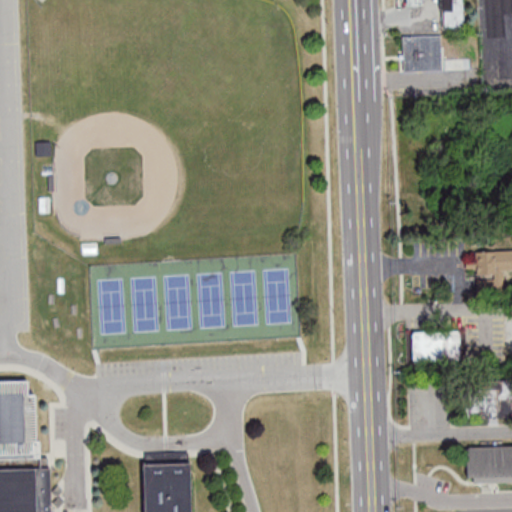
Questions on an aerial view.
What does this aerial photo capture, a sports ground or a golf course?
sports ground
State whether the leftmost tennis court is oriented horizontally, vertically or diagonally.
vertically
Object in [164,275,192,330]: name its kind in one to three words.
tennis court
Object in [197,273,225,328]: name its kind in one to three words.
tennis court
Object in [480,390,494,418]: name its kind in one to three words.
house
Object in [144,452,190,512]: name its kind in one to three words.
building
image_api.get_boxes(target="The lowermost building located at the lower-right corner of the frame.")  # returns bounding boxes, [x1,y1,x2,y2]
[468,446,512,483]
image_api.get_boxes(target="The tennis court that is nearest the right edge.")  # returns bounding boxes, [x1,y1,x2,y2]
[263,269,291,324]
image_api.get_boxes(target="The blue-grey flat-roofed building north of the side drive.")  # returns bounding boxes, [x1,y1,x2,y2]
[399,36,442,72]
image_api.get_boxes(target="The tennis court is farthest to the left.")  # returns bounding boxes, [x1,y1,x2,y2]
[98,279,126,334]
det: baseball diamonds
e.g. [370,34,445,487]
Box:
[21,0,304,264]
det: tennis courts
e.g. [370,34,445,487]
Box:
[230,271,258,326]
[164,275,192,330]
[131,277,159,332]
[98,279,126,334]
[263,269,291,324]
[197,273,225,328]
